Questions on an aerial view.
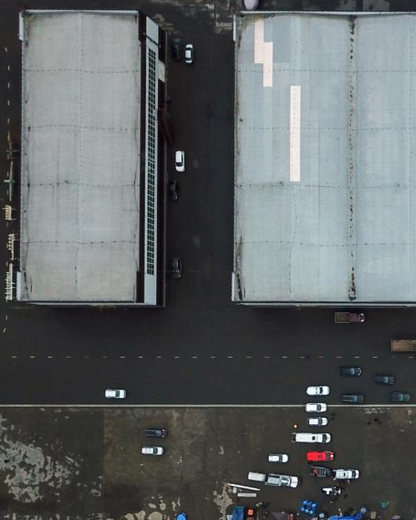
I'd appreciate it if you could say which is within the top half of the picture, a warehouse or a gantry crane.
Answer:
warehouse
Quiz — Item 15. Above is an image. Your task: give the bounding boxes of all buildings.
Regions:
[229,10,416,309]
[13,9,168,307]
